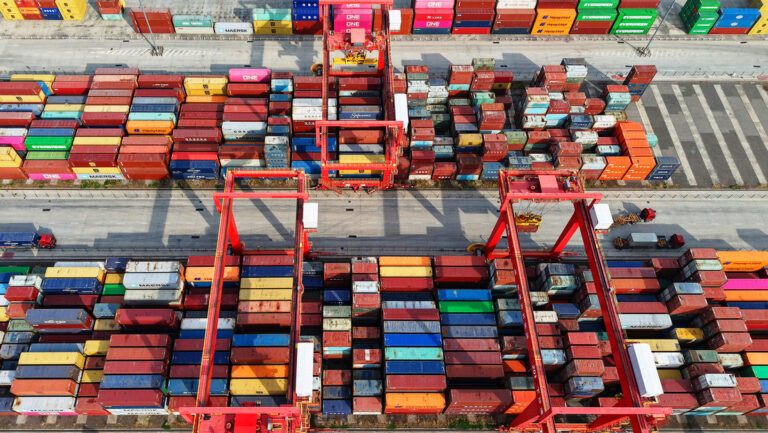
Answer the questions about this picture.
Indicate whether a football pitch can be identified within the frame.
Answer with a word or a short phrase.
No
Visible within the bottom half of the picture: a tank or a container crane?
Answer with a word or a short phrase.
container crane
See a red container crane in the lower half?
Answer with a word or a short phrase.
Yes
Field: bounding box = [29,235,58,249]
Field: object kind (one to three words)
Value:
vehicle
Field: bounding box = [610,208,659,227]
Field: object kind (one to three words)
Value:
vehicle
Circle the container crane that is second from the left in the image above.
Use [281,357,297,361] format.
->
[308,0,414,187]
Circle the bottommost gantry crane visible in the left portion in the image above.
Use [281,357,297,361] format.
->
[178,163,330,433]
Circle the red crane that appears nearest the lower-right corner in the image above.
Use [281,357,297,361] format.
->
[464,163,677,433]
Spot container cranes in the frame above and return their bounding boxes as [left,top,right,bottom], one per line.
[178,163,330,433]
[308,0,414,187]
[464,163,677,433]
